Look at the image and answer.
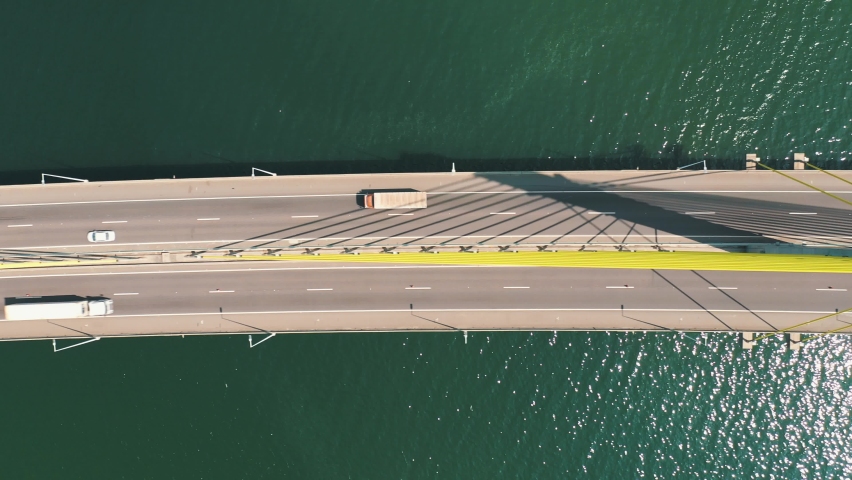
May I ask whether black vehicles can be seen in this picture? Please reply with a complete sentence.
No, the scene contains no black vehicle.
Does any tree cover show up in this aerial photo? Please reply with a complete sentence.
No, tree cover can't be seen anywhere here.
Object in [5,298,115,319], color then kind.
white truck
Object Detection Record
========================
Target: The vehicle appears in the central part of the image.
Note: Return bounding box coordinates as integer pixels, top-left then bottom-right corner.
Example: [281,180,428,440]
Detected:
[364,192,428,211]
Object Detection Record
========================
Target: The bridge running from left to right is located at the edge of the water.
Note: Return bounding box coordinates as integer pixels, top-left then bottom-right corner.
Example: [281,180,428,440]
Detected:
[0,153,852,350]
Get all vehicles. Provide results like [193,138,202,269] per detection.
[364,192,428,211]
[5,298,115,319]
[90,230,117,242]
